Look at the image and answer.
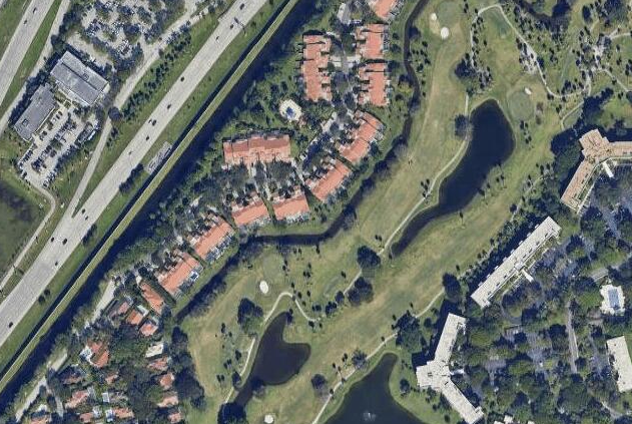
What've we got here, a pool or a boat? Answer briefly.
pool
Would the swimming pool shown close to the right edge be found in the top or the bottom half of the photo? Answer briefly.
bottom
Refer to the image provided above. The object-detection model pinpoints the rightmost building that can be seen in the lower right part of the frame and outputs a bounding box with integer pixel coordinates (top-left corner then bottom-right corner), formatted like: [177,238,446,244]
[607,335,632,391]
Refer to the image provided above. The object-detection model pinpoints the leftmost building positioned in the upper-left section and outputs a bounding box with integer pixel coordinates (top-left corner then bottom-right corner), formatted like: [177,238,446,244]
[15,84,57,141]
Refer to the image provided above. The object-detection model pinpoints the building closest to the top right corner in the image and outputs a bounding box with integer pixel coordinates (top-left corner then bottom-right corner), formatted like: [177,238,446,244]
[560,129,632,211]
